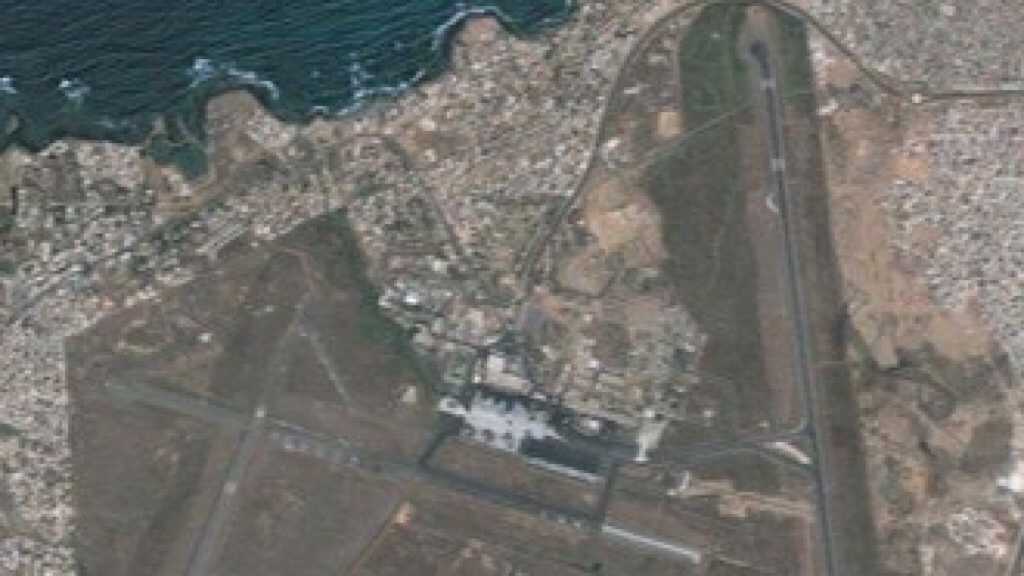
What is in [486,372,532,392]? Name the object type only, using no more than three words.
building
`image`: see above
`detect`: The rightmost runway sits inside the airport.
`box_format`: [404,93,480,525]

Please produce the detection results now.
[750,40,840,576]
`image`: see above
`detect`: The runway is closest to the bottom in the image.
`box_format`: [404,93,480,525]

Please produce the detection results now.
[181,315,306,576]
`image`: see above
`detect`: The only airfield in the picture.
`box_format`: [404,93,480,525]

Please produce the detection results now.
[106,40,840,576]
